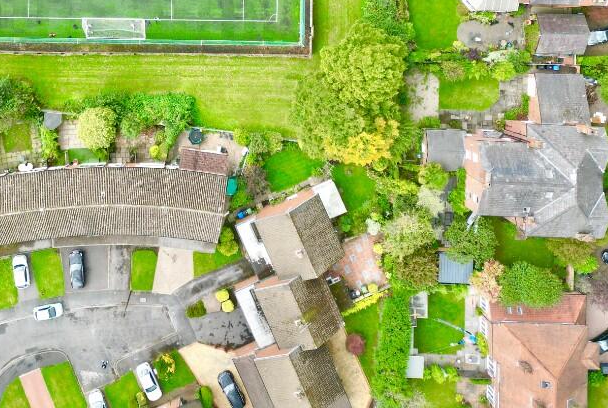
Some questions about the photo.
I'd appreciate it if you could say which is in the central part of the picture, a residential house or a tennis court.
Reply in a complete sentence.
You can see a residential house in the central part of the picture.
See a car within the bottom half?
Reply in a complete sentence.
Yes, looking within the bottom half, one can make out a car.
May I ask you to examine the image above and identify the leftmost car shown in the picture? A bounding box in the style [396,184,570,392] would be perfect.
[11,253,31,289]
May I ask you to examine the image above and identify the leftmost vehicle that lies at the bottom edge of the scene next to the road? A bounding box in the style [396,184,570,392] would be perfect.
[85,384,105,408]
